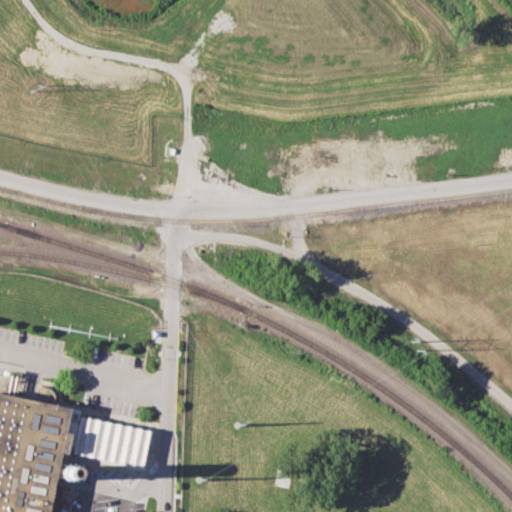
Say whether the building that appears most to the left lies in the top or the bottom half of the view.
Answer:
bottom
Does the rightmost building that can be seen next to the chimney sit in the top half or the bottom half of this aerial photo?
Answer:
bottom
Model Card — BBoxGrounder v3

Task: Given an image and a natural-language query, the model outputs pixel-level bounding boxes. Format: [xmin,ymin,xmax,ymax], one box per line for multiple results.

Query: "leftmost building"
[0,396,80,512]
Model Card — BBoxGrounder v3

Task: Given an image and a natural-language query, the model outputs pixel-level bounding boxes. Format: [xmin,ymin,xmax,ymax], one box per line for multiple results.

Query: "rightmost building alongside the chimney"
[71,418,151,472]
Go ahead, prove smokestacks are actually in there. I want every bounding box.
[60,464,88,484]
